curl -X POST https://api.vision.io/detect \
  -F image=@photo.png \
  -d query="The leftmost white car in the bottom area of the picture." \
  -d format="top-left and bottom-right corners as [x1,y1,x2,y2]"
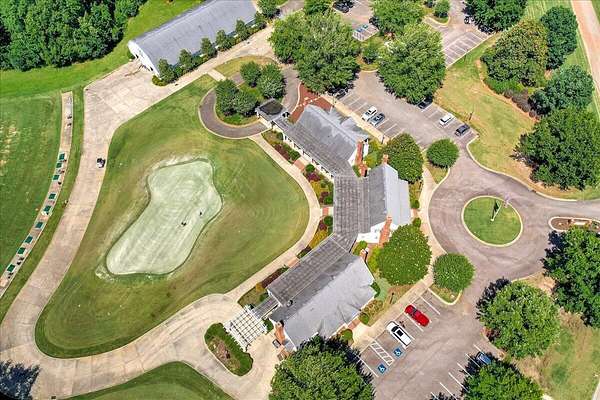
[387,322,412,347]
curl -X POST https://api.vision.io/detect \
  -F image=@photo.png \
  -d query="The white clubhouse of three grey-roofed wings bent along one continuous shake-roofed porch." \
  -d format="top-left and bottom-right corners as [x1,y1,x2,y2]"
[253,103,412,348]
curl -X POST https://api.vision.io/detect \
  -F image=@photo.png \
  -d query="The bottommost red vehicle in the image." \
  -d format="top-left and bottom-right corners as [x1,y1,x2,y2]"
[406,305,429,327]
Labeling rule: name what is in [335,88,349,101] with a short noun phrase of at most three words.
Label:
vehicle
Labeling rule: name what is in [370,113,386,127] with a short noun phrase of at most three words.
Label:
vehicle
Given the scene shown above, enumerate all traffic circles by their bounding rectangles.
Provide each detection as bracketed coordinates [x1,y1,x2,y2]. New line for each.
[444,182,542,262]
